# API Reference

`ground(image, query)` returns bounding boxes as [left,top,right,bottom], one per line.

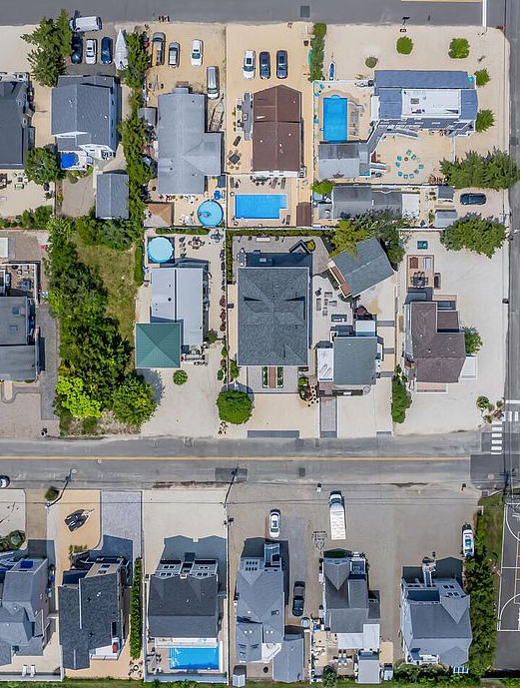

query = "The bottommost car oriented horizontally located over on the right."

[459,192,486,204]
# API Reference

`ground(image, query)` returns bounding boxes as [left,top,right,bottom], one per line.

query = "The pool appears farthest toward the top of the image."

[322,95,349,142]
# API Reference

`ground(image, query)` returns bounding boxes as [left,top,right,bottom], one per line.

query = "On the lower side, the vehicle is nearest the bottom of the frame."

[292,581,305,615]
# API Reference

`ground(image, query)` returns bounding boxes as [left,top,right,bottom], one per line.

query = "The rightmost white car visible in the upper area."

[243,50,256,78]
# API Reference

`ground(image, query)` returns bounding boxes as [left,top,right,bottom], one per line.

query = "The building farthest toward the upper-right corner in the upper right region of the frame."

[368,70,479,149]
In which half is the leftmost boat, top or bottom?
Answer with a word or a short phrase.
bottom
